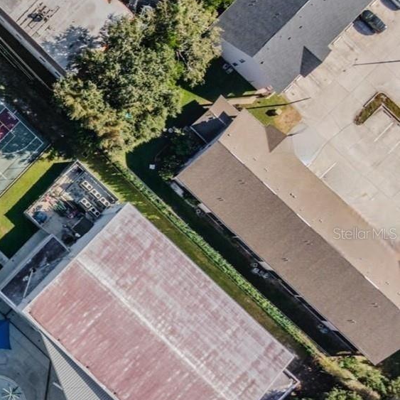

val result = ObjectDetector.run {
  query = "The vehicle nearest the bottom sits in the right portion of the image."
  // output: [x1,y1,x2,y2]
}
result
[362,8,389,32]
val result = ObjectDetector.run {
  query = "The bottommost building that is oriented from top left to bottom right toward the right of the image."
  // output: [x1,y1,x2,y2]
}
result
[154,108,400,375]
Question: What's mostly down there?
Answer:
buildings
